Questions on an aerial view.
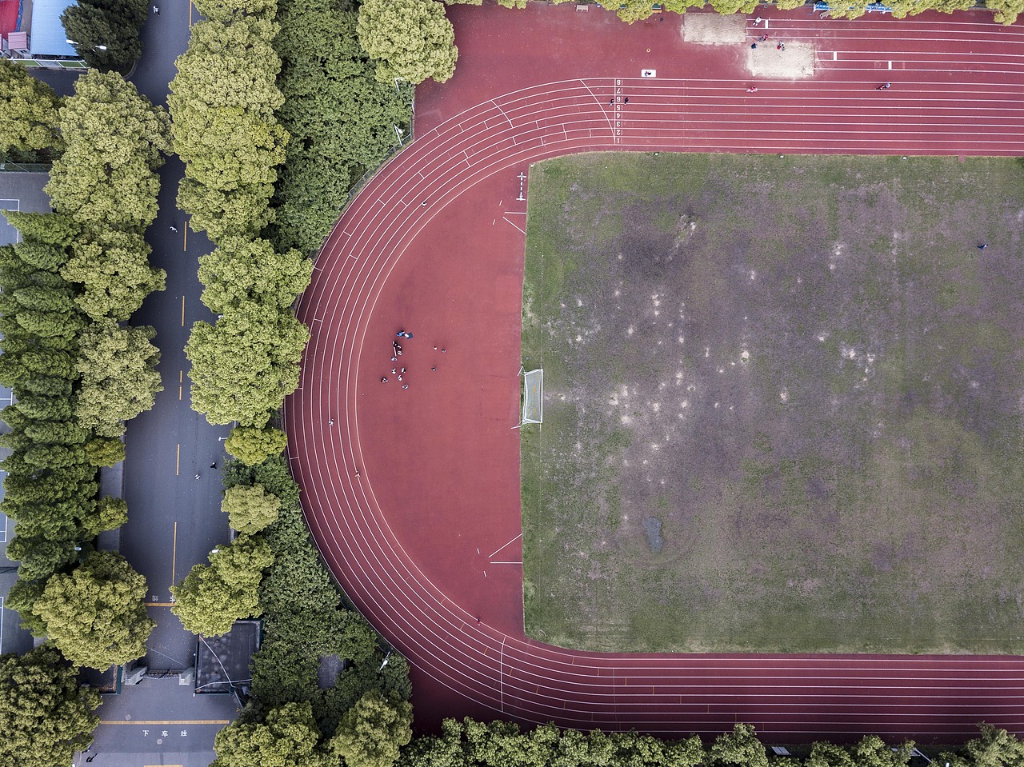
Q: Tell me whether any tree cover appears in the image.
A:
Yes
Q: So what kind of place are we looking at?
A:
sports ground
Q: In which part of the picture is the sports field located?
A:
right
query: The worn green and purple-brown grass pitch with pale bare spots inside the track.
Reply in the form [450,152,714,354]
[521,150,1024,654]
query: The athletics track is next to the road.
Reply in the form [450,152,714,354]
[282,2,1024,743]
